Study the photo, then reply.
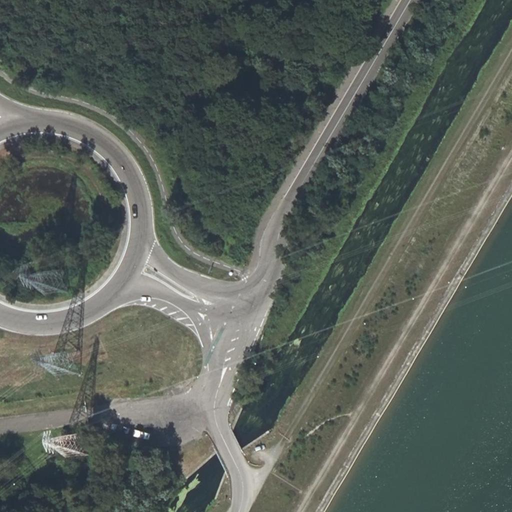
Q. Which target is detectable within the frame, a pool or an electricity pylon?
electricity pylon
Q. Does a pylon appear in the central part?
No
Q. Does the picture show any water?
Yes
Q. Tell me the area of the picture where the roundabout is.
left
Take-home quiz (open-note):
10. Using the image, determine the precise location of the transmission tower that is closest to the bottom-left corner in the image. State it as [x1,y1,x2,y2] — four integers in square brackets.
[42,432,84,461]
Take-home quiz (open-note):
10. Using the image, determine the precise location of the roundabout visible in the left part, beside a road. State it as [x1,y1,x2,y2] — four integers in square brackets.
[0,108,154,336]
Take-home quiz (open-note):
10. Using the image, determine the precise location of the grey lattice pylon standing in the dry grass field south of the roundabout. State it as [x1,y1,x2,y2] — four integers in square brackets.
[34,348,82,380]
